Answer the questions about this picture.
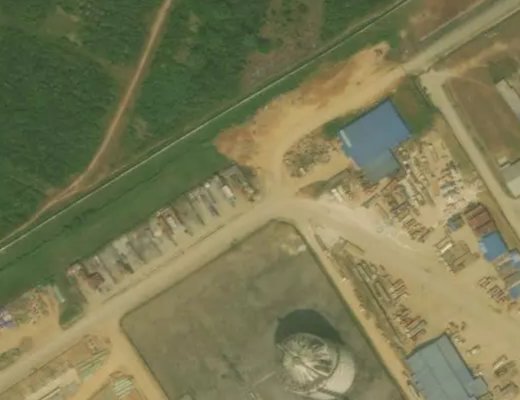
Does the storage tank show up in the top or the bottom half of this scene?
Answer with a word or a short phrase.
bottom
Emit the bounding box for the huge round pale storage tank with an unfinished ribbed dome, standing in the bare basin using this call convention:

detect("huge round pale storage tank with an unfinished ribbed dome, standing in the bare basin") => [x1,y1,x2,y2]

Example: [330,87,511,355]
[276,330,355,400]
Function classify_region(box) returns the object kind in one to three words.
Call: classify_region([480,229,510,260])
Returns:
building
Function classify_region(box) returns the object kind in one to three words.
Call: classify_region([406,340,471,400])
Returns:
building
